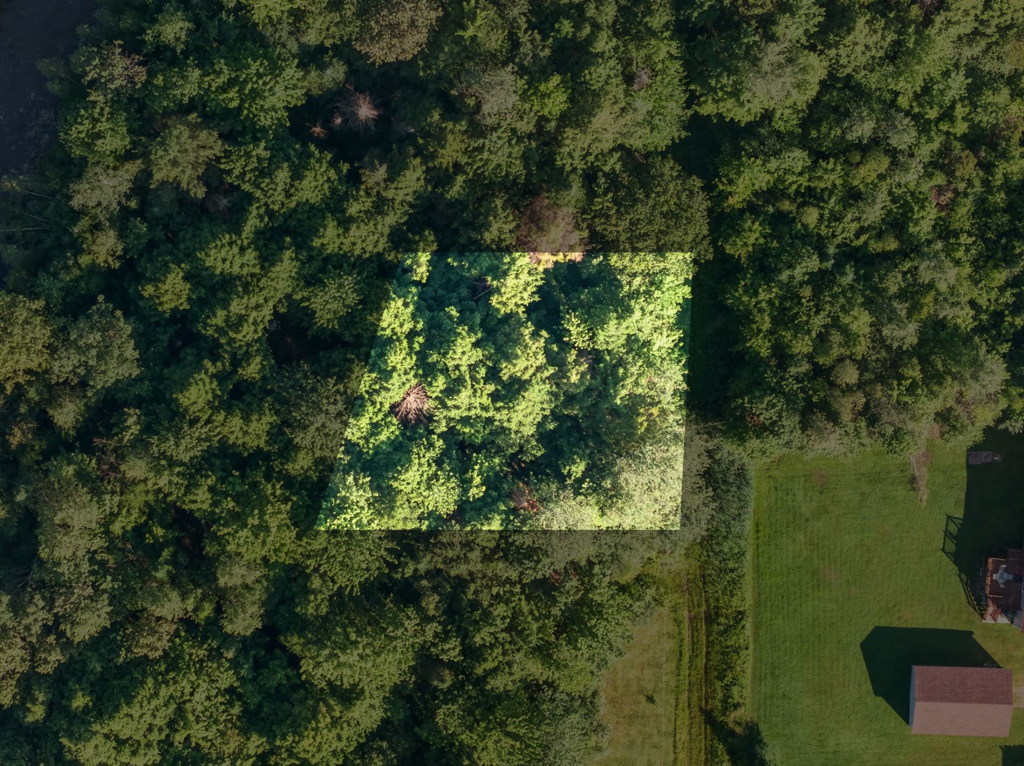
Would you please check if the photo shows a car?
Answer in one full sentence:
No, there appears to be no car in this shot.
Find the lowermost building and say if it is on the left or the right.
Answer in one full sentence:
The lowermost building sits on the right side.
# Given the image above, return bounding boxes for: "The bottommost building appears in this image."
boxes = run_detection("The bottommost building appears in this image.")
[908,663,1014,739]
